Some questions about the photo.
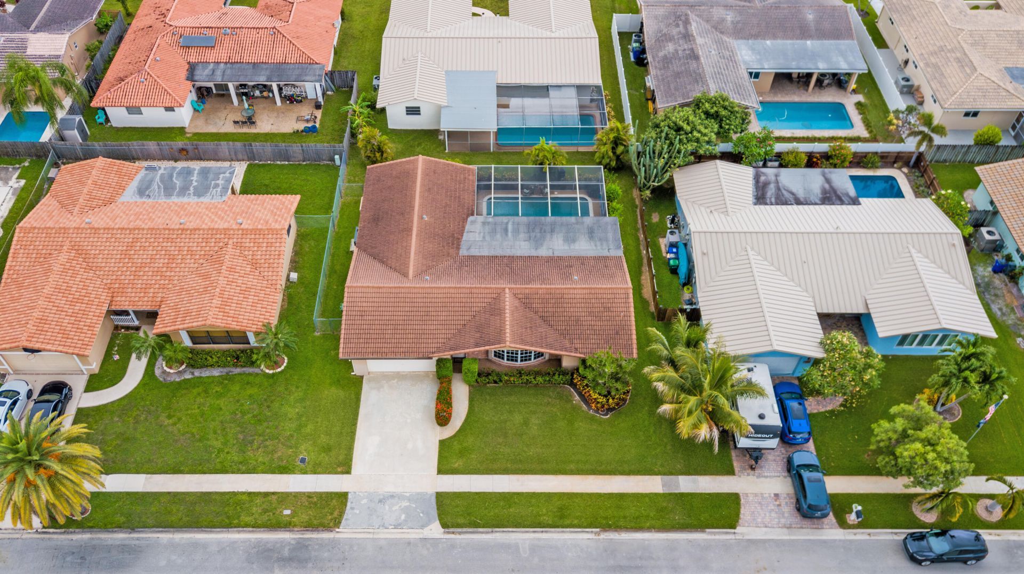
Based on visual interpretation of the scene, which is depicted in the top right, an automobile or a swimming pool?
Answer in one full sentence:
You can see a swimming pool in the top right.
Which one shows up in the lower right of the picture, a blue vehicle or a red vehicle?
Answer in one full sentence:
Looking in the lower right of the picture, you will find a blue vehicle.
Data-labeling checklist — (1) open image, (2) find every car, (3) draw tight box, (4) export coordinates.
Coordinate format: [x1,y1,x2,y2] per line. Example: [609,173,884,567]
[897,521,991,564]
[33,380,84,441]
[775,381,815,446]
[0,378,44,448]
[782,452,830,523]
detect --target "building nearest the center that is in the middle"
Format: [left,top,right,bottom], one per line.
[337,154,639,377]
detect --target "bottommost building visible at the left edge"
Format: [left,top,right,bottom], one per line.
[0,155,305,375]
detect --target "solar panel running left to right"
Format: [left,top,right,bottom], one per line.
[179,34,215,46]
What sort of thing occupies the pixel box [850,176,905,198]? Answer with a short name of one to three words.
swimming pool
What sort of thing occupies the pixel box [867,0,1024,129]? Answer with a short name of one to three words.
house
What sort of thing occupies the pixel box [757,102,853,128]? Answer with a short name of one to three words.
swimming pool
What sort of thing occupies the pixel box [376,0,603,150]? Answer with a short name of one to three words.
house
